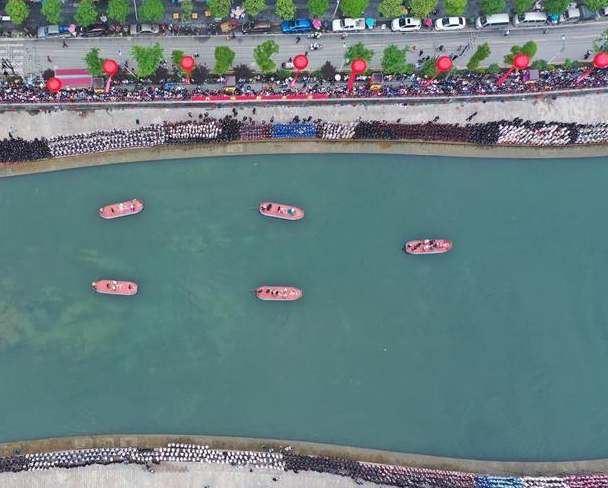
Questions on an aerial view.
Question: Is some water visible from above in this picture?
Yes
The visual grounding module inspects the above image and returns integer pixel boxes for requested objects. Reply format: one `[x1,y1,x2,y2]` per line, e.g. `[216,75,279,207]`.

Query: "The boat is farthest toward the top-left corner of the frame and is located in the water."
[98,200,144,218]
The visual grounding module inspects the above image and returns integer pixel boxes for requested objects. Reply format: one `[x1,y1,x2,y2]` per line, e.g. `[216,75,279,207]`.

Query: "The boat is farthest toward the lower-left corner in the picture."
[93,280,140,295]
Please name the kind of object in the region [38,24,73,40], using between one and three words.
vehicle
